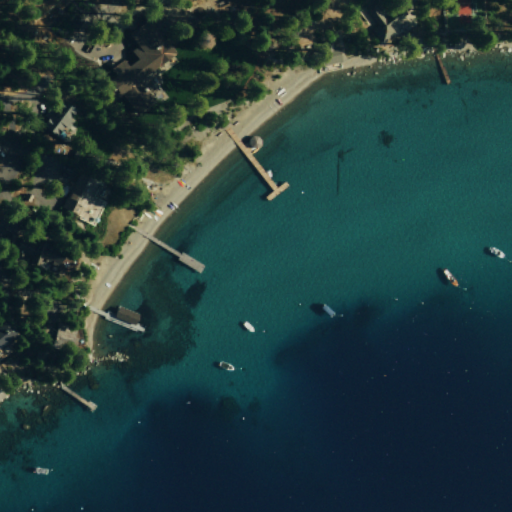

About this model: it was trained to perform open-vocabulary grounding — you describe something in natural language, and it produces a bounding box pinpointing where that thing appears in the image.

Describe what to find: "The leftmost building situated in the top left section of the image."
[48,102,80,139]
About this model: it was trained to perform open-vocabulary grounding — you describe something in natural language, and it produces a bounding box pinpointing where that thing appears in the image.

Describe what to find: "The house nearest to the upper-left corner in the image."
[86,1,128,23]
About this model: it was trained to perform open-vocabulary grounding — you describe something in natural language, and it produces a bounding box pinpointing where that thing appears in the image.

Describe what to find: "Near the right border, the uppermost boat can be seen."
[488,246,505,258]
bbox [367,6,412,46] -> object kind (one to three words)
house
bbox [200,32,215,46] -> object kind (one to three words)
gazebo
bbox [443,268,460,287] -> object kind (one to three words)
boat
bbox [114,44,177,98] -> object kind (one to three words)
house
